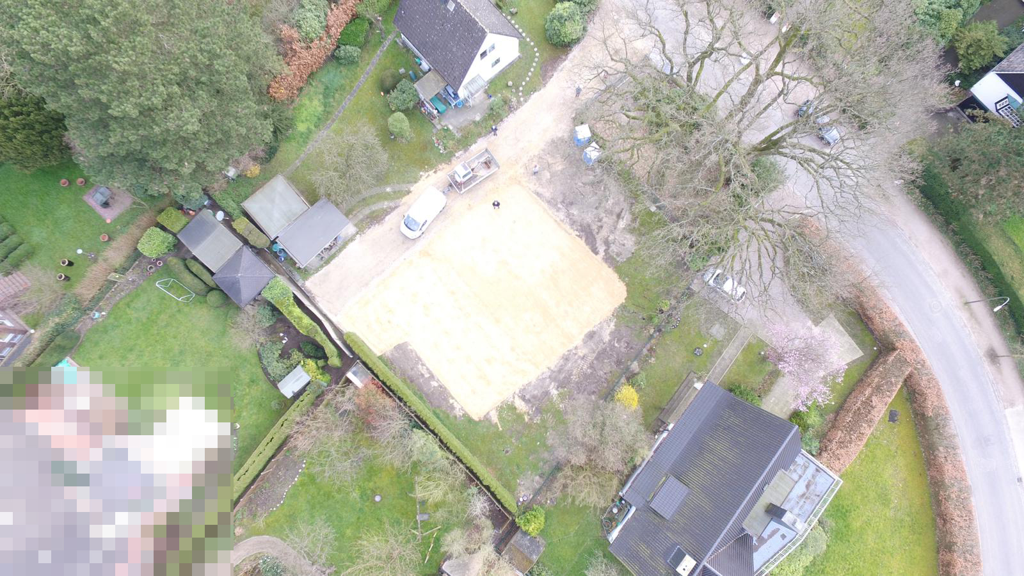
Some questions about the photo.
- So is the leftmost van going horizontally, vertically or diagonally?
diagonally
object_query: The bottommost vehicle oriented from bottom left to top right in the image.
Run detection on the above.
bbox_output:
[396,181,454,244]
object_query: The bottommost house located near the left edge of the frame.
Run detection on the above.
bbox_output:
[0,406,172,576]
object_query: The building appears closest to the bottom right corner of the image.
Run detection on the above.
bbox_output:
[602,382,844,576]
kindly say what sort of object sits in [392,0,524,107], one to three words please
house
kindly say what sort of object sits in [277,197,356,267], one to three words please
shed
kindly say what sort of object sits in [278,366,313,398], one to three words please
shed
